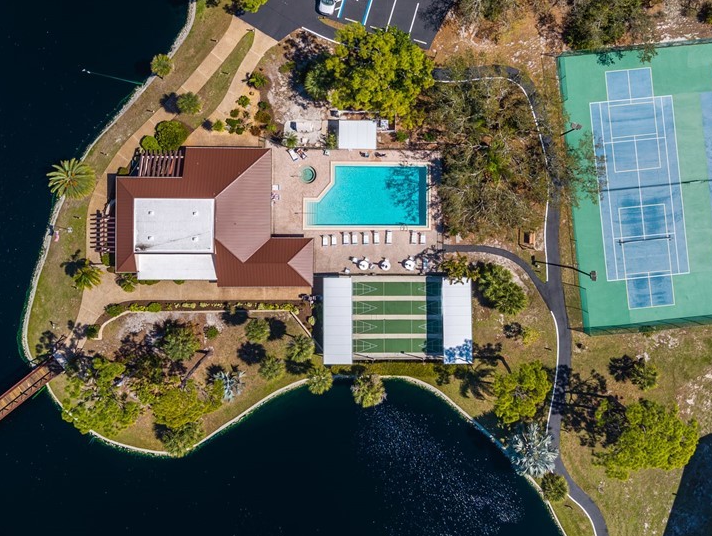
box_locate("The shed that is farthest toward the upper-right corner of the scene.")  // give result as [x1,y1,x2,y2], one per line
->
[338,120,377,149]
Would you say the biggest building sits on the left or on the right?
left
